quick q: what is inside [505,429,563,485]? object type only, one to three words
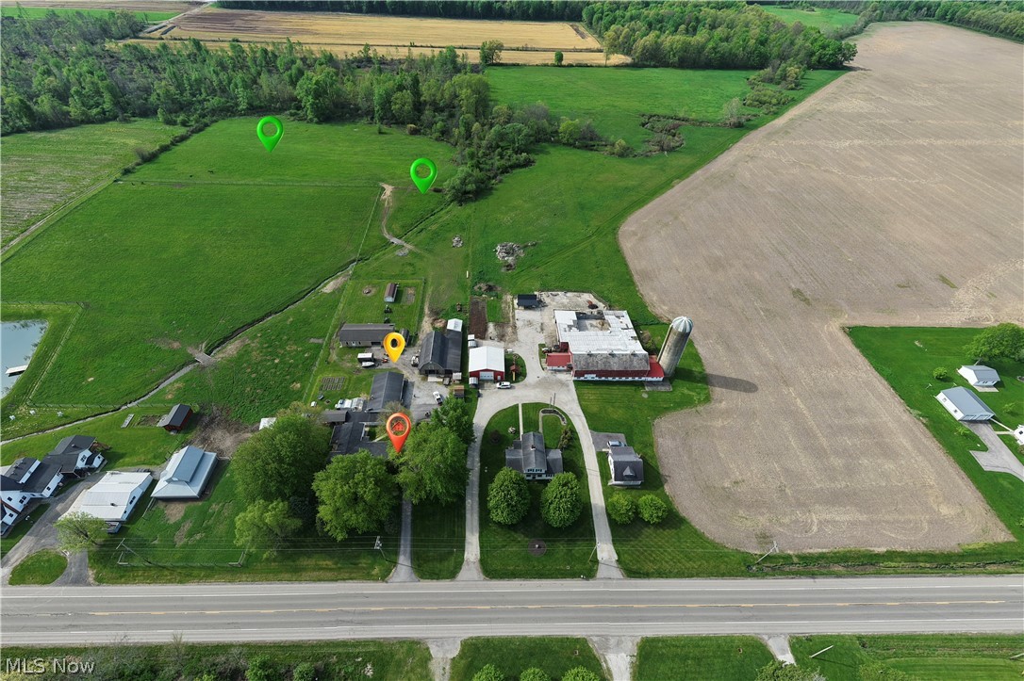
house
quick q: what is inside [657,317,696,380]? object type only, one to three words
silo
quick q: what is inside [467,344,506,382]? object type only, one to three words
building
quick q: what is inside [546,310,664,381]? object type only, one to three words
barn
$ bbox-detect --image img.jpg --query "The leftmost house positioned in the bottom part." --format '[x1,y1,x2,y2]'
[0,432,111,517]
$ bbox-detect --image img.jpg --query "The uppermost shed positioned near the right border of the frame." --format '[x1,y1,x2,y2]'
[960,360,1002,387]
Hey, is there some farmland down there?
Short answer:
Yes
